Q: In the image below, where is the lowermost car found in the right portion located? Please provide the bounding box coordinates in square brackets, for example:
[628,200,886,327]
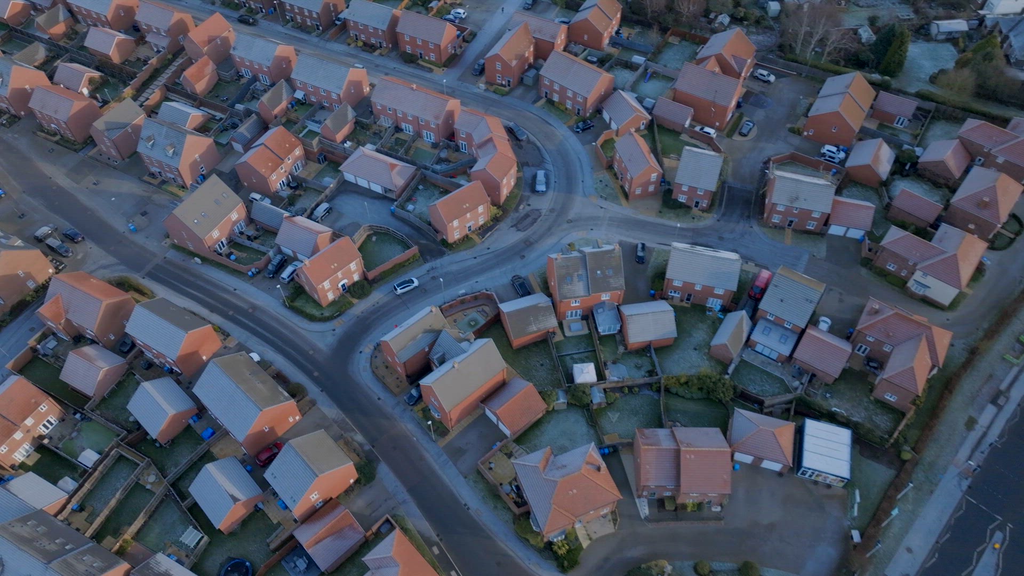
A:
[817,314,832,335]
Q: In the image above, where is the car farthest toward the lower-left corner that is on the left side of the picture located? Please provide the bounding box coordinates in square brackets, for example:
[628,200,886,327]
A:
[116,333,135,356]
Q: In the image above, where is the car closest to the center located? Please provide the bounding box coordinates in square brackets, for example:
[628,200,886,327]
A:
[511,273,531,294]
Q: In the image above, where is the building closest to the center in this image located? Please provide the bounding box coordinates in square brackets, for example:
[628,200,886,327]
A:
[497,292,558,348]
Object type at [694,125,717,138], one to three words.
vehicle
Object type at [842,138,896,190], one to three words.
building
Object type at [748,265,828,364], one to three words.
house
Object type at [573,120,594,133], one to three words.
vehicle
